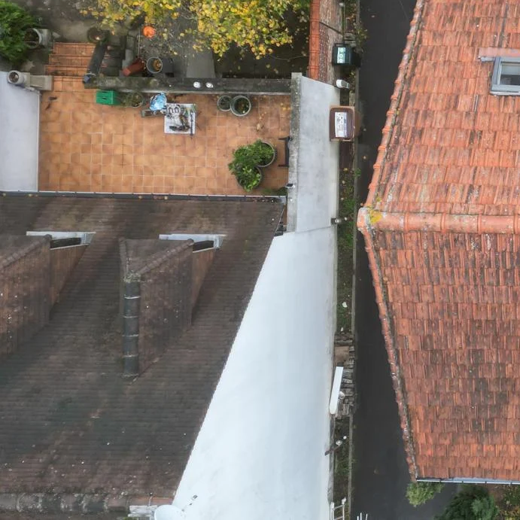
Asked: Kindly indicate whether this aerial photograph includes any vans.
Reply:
No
